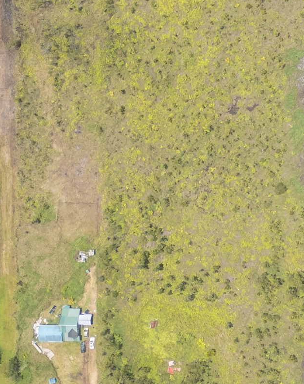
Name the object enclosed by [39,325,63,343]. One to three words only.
barn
